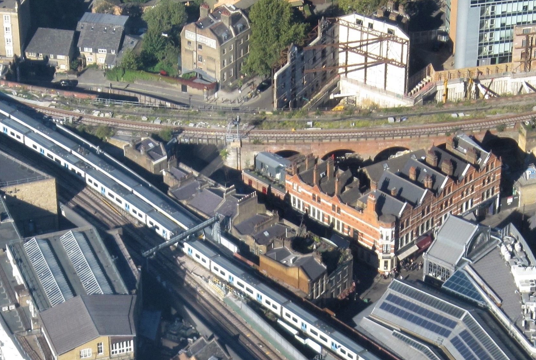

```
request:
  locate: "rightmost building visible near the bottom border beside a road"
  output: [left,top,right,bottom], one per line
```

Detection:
[466,223,536,360]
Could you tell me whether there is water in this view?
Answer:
No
